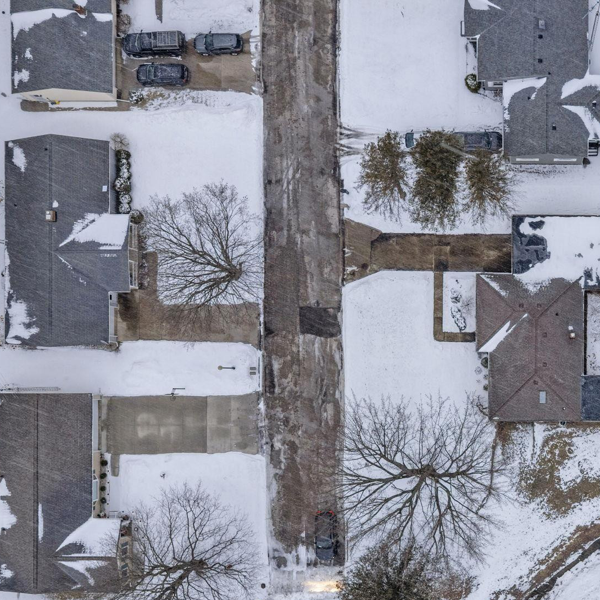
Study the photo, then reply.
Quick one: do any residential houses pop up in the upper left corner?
Yes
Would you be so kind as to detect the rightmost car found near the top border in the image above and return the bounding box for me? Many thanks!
[192,27,241,54]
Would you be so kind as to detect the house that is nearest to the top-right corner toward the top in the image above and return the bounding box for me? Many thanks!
[460,0,600,163]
